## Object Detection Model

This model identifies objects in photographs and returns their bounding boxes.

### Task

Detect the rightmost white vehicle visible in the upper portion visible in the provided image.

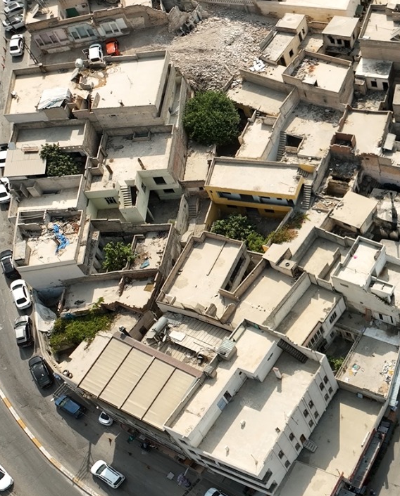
[88,44,102,59]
